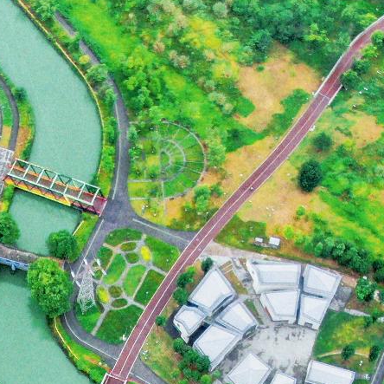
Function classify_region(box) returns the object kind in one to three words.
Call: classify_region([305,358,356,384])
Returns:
building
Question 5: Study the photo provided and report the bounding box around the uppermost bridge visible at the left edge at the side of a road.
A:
[0,159,114,217]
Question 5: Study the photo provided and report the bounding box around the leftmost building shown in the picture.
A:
[173,304,208,343]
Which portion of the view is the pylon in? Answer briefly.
bottom left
